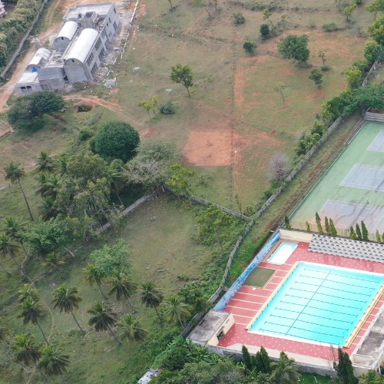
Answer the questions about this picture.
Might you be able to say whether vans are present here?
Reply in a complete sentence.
No, there isn't any van down there.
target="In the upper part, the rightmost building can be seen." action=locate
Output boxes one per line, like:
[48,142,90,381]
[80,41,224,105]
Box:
[16,2,121,96]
